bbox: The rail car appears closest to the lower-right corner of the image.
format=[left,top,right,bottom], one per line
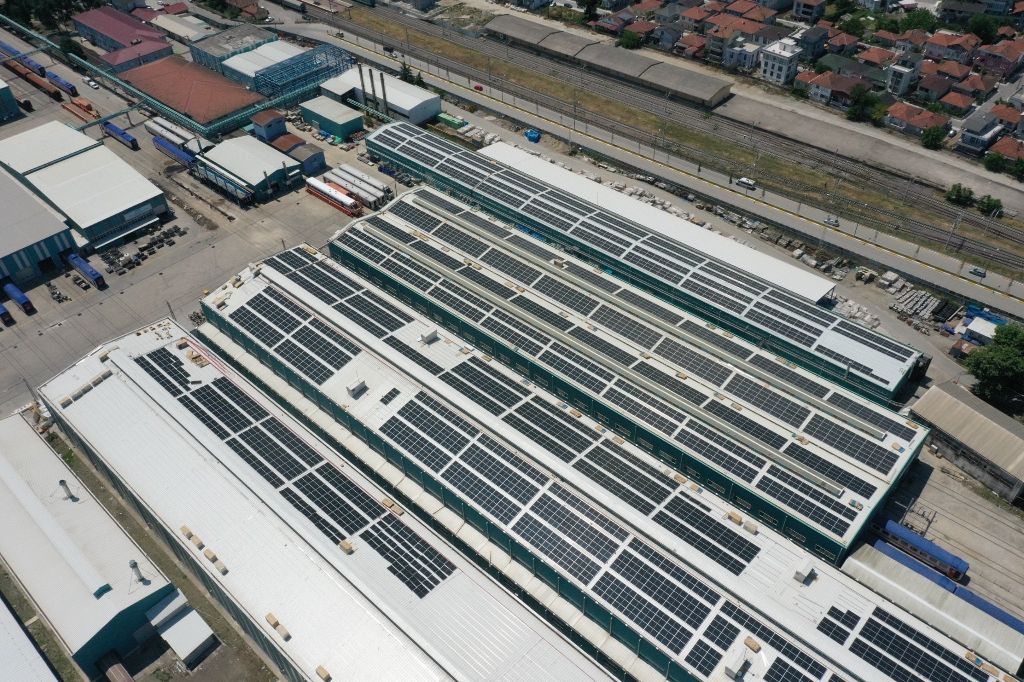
[958,585,1024,637]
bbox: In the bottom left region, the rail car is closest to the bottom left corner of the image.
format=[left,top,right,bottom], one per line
[101,646,143,682]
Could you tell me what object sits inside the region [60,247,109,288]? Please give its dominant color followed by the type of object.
blue rail car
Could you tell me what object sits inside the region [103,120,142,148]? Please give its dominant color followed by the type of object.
blue rail car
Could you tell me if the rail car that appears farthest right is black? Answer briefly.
No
